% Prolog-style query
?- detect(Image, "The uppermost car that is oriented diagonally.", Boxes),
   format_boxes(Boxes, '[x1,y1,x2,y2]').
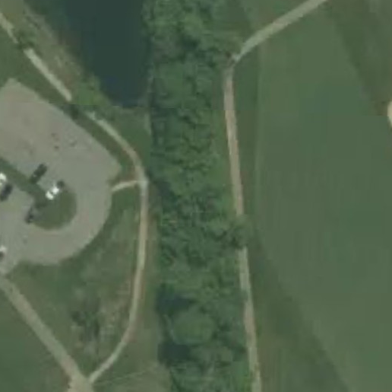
[30,164,46,184]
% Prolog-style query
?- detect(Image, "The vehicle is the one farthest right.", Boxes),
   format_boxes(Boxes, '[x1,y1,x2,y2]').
[45,181,63,201]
